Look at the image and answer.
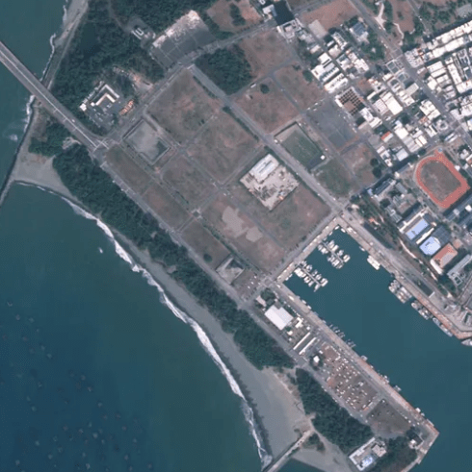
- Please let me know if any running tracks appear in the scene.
Yes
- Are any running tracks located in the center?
No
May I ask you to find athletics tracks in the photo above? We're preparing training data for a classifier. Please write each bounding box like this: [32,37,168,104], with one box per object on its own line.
[416,157,469,209]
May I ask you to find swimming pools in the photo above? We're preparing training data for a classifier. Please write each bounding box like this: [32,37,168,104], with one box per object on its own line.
[357,454,372,470]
